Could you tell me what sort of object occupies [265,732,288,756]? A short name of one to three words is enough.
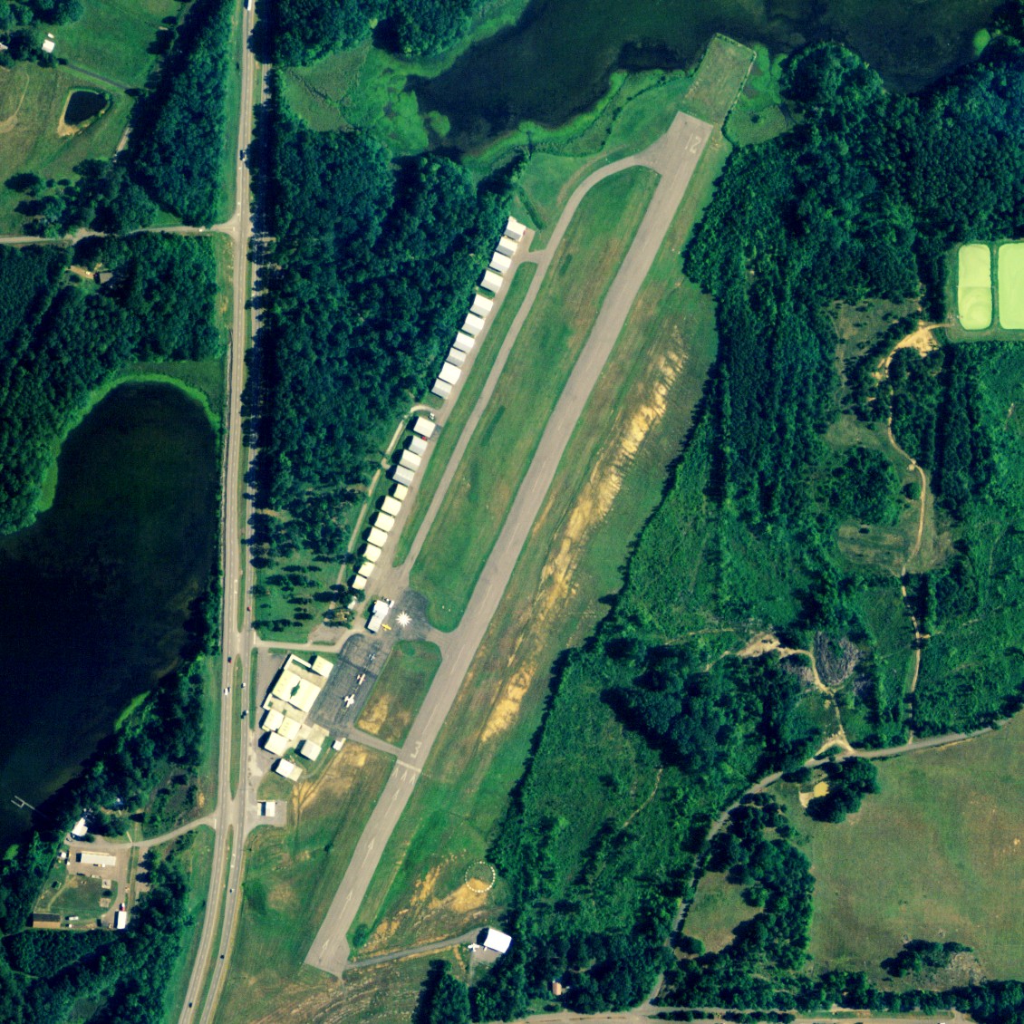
hangar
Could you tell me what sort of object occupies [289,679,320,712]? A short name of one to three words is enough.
building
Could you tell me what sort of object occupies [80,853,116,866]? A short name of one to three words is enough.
shed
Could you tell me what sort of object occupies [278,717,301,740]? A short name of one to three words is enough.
building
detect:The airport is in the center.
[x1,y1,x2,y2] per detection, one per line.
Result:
[271,111,713,981]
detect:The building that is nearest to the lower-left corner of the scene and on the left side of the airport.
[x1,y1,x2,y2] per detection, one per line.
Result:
[32,914,60,929]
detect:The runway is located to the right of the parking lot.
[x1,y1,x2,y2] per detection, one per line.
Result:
[304,111,713,981]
